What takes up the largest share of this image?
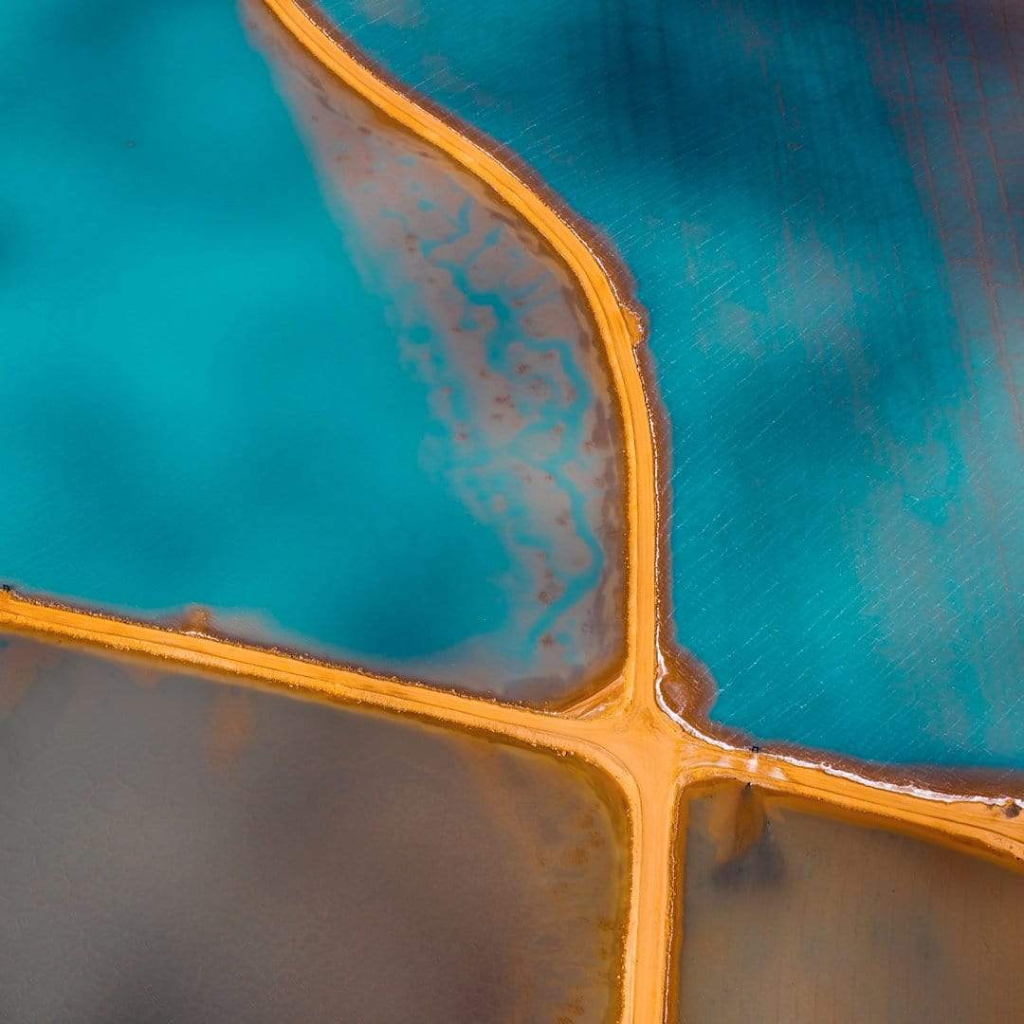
water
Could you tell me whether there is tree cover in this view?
No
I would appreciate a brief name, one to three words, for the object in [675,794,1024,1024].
pond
